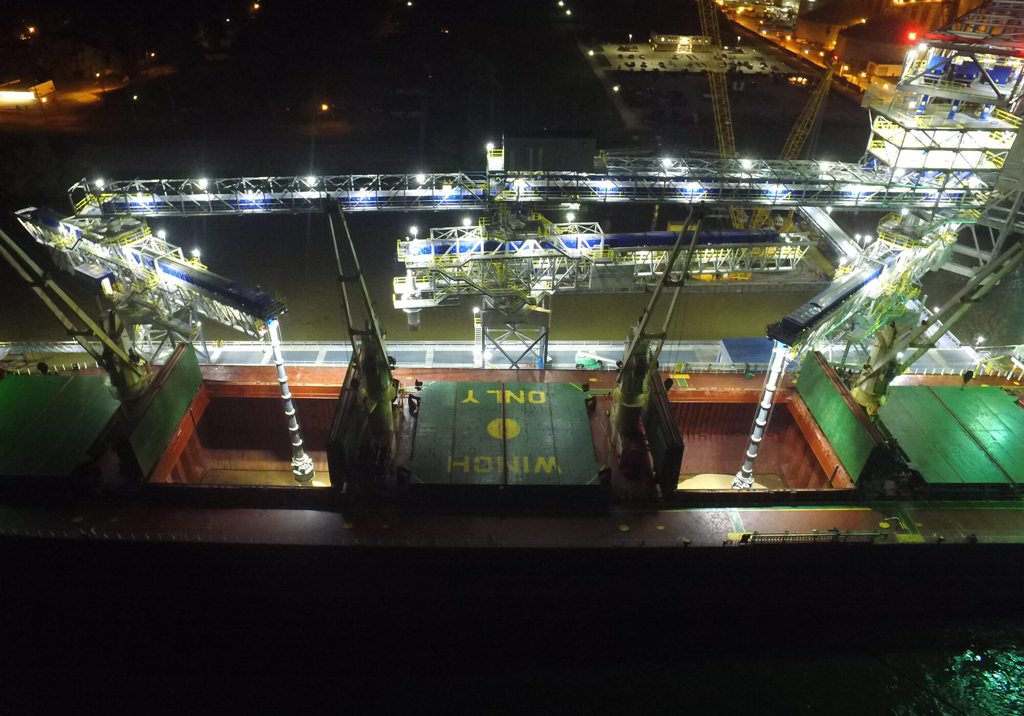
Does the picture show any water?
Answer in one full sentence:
Yes, water can be seen from above here.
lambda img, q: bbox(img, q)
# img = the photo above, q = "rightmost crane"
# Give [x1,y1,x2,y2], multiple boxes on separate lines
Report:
[845,226,1024,427]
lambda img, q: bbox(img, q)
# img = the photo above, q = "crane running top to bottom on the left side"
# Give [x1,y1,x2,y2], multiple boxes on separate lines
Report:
[325,198,404,452]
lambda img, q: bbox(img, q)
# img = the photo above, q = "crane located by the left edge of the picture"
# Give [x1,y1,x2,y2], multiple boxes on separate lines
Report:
[0,214,157,423]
